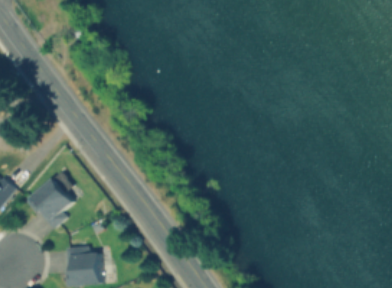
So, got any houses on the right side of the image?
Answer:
No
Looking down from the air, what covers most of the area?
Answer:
water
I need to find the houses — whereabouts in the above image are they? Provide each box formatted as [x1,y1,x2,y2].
[0,174,16,207]
[64,246,106,288]
[28,168,74,230]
